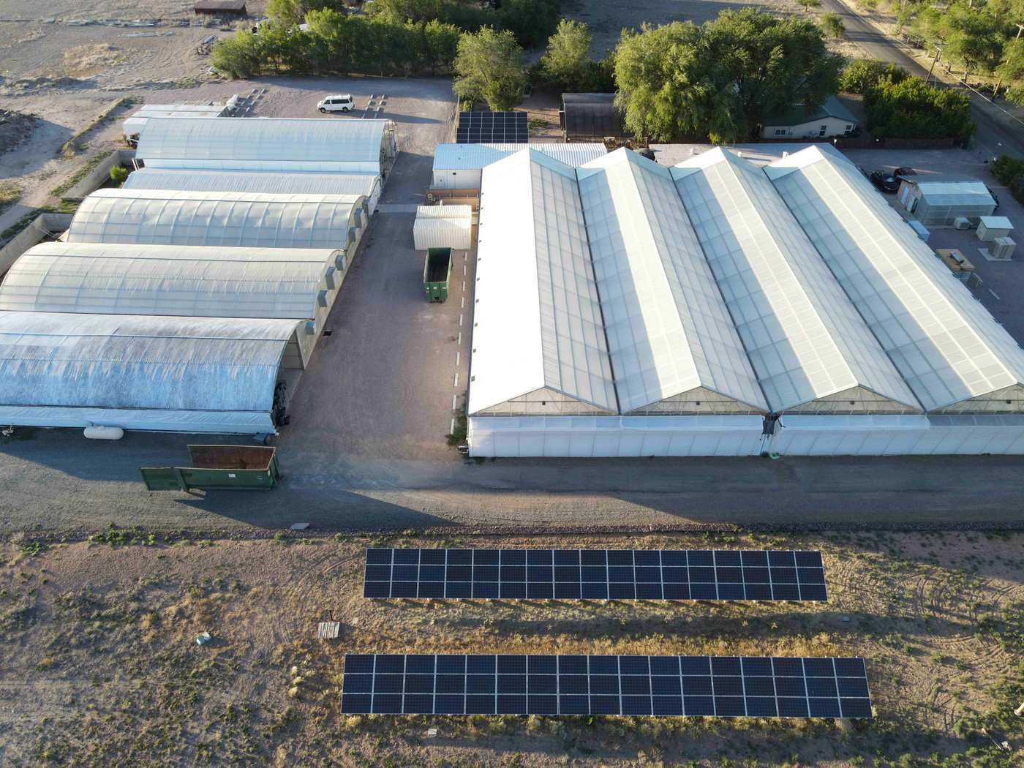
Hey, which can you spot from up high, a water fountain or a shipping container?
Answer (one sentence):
There is a shipping container in the scene.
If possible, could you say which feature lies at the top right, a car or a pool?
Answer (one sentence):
There is a car at the top right.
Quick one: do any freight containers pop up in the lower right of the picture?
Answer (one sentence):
No, there's no freight container to be seen in the lower right of the picture.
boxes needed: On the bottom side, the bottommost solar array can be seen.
[339,653,870,721]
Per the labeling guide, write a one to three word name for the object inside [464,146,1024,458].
greenhouse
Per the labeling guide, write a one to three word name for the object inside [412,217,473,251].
shipping container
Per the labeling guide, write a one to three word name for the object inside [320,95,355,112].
vehicle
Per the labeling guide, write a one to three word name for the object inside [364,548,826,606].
solar array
